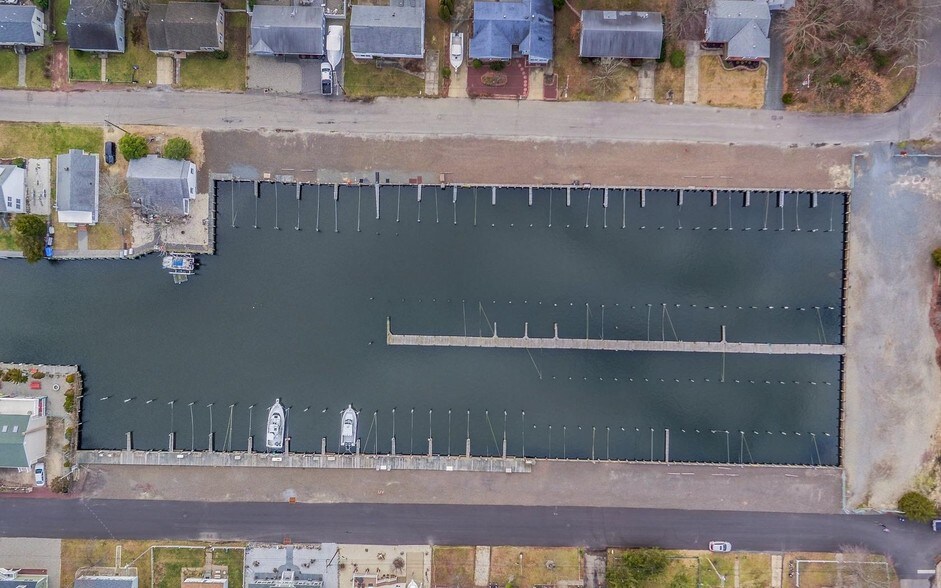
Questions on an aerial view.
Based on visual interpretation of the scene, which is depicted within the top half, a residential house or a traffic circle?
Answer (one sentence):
It is a residential house that can be seen within the top half.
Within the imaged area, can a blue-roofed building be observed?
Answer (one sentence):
Yes, looking at the shot, I can spot a blue-roofed building.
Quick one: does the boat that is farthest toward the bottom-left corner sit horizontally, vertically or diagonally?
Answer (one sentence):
In this picture, the boat that is farthest toward the bottom-left corner is oriented vertically.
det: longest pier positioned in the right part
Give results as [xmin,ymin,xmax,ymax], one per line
[387,335,848,356]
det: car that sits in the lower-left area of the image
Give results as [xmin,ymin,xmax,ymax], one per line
[33,462,47,486]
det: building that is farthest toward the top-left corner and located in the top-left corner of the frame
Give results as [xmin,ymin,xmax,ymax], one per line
[0,4,45,54]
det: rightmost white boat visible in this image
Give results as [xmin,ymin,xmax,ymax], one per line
[450,28,463,71]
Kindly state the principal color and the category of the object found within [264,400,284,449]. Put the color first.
white boat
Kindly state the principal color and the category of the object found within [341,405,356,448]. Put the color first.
white boat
